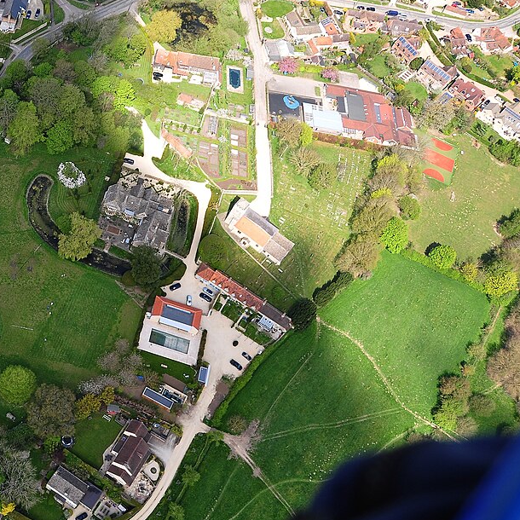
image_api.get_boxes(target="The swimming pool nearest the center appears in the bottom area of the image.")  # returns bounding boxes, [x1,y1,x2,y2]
[149,329,190,354]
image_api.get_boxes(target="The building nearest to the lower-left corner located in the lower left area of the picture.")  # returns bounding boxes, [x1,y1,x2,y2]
[48,462,104,515]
